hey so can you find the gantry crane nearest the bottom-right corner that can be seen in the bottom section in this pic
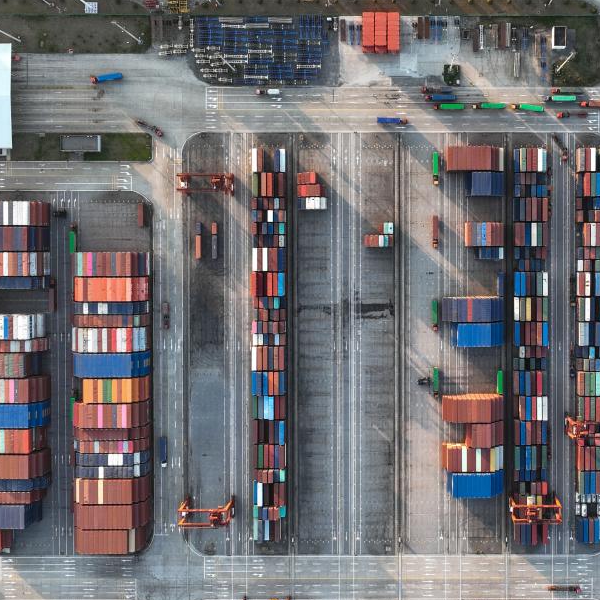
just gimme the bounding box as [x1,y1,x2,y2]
[506,492,564,524]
